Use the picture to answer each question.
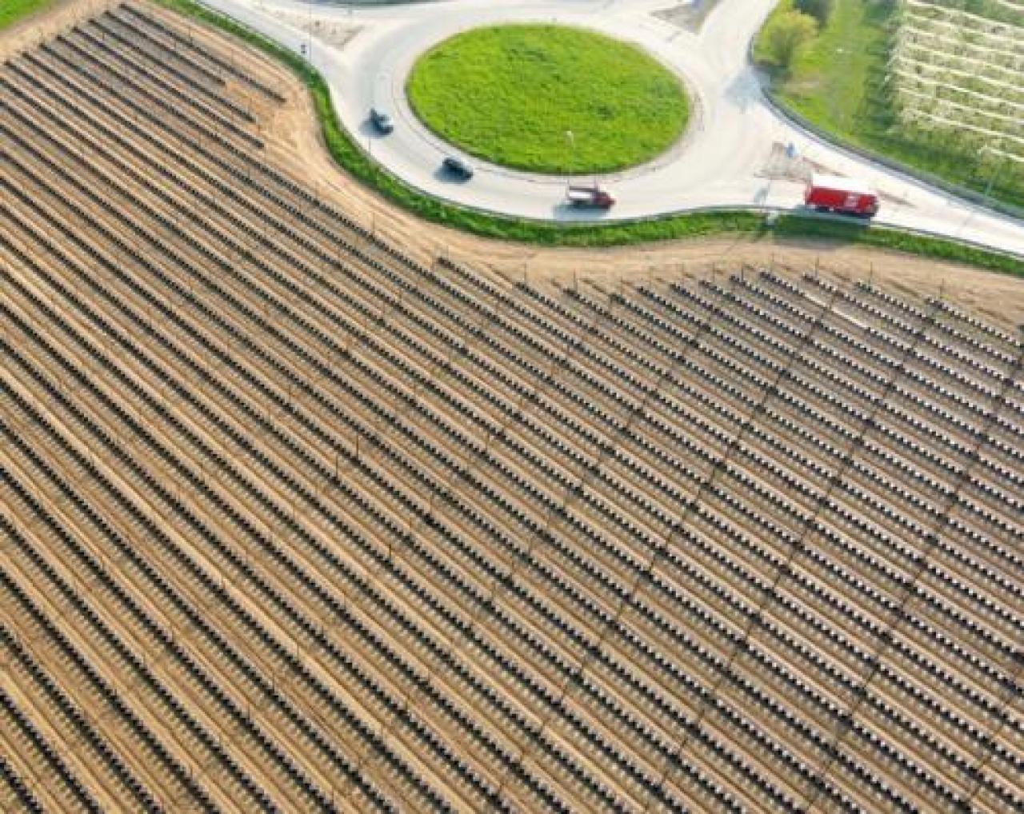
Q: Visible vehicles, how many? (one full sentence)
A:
My tally gives 4 vehicles in this view.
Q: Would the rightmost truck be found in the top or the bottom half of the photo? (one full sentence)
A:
You can find the rightmost truck in the top half.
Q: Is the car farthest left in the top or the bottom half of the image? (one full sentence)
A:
The top half of the photo is where the car farthest left is.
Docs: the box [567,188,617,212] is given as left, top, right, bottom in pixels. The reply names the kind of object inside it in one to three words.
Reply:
truck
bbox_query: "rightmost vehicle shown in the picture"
[805,176,880,218]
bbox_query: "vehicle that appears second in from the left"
[440,155,475,177]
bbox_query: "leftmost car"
[368,111,395,133]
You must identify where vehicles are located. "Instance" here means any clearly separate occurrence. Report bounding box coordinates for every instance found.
[440,155,475,177]
[567,188,617,212]
[368,111,395,133]
[805,176,880,218]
